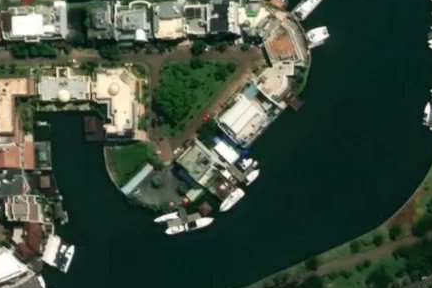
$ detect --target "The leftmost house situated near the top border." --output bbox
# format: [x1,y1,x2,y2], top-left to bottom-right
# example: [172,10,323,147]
[2,1,67,42]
